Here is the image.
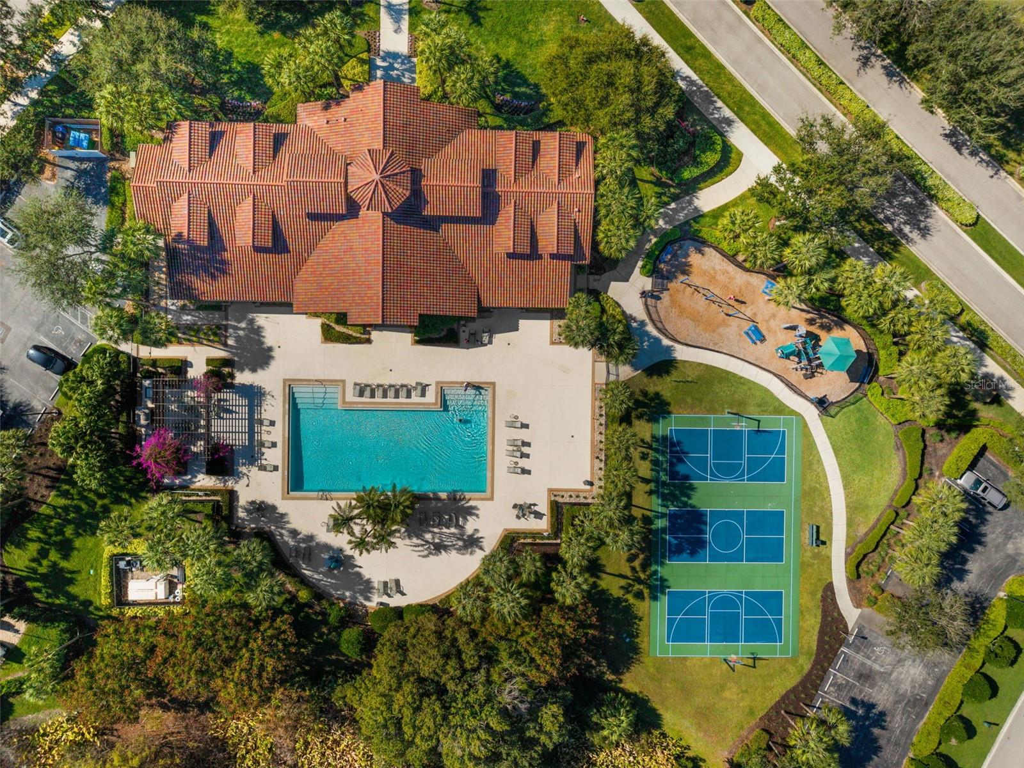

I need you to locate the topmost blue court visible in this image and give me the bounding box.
[668,428,786,482]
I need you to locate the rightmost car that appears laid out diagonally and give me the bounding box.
[954,471,1009,512]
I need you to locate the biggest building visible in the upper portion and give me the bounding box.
[130,81,593,326]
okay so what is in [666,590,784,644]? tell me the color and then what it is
blue sports court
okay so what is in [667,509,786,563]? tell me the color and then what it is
blue sports court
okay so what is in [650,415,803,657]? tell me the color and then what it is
green basketball court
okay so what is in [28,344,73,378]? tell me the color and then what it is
black car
